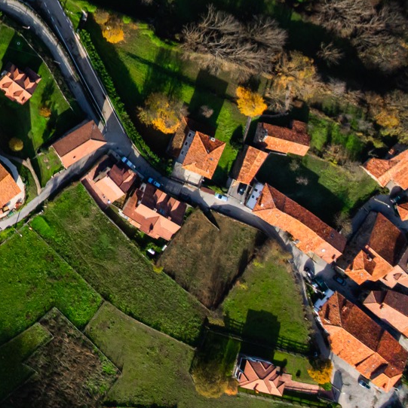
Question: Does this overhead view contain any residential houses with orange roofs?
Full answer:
Yes, a residential house with an orange roof appears in the view.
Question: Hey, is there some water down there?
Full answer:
No, there is no water in the image.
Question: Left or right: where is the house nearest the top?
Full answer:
It is on the left.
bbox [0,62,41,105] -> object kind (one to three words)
house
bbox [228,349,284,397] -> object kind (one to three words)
house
